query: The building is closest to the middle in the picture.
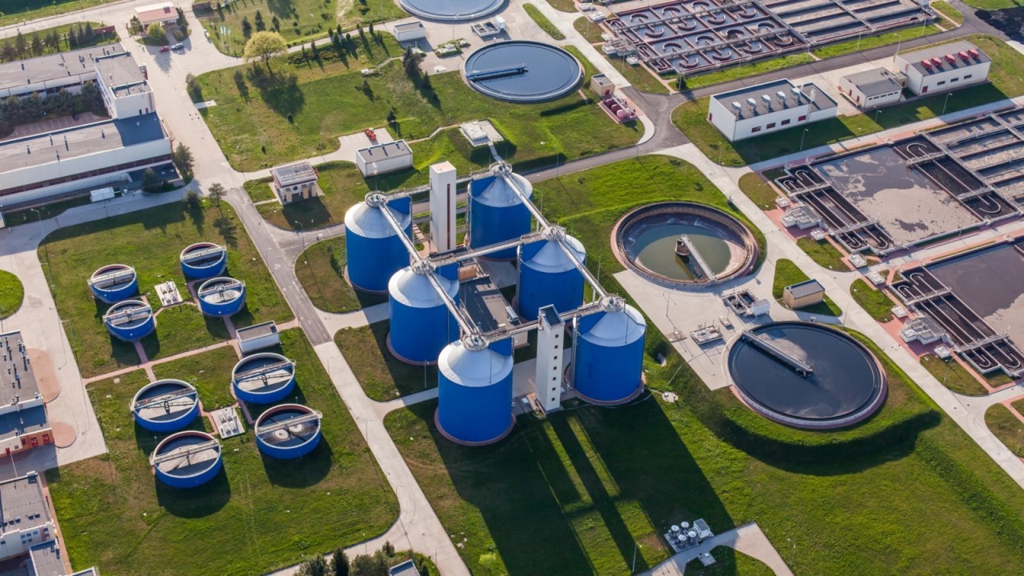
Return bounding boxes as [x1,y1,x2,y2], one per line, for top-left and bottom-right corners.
[458,275,530,348]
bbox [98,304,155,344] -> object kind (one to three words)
storage tank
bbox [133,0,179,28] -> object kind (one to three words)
building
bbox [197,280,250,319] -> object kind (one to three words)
storage tank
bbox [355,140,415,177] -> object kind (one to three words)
house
